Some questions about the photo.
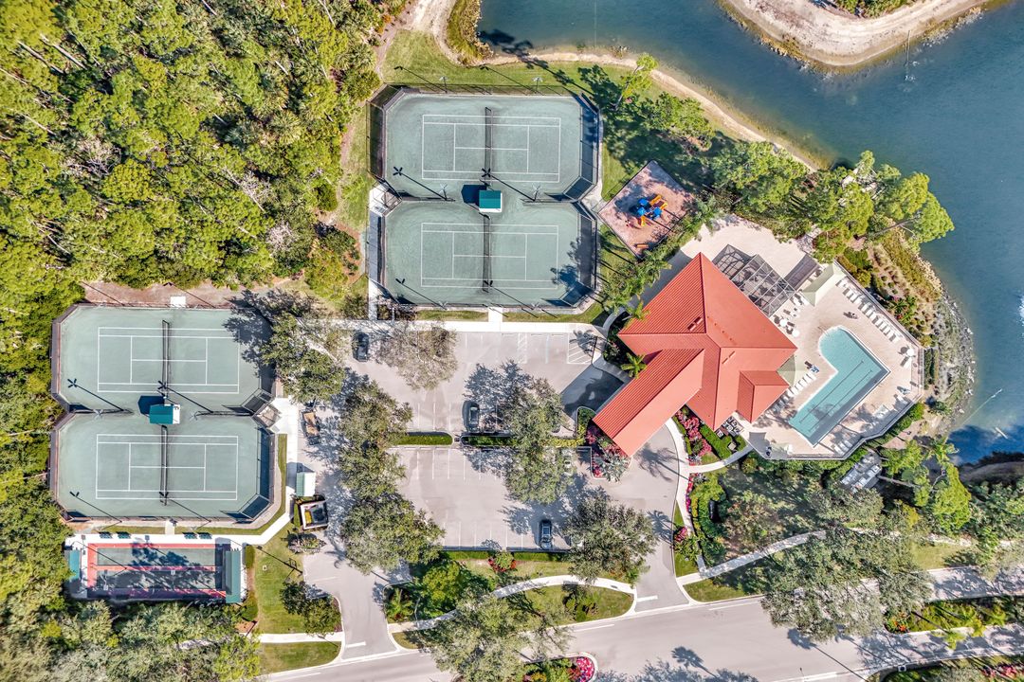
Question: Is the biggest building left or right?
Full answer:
The biggest building is on the right side of the image.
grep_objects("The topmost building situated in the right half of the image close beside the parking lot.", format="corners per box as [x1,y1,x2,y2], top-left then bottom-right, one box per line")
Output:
[592,251,798,457]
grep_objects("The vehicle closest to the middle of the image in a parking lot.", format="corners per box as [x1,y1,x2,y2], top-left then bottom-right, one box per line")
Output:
[467,402,480,430]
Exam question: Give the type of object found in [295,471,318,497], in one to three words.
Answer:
shed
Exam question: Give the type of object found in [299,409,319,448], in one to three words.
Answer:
vehicle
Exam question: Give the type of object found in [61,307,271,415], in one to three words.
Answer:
tennis court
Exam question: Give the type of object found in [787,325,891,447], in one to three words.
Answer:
swimming pool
